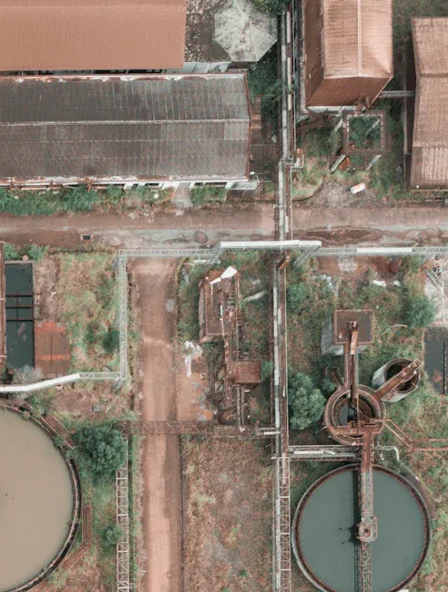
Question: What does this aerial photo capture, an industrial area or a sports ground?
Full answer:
The area seen from above is an industrial area.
